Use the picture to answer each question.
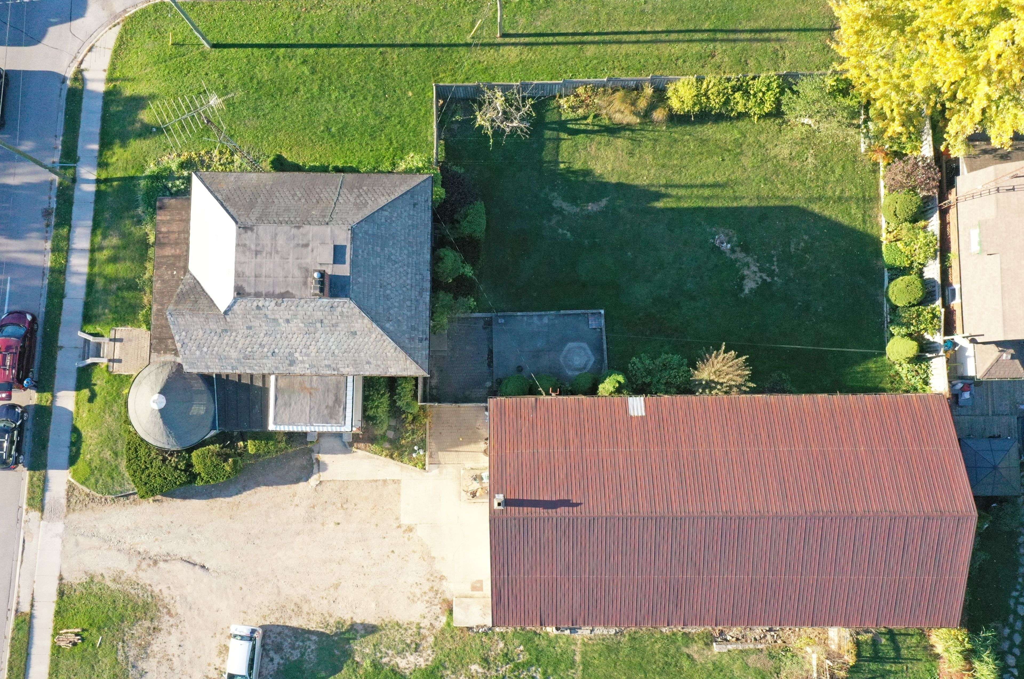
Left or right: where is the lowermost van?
left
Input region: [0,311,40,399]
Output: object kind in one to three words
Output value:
car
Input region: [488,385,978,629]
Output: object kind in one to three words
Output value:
barn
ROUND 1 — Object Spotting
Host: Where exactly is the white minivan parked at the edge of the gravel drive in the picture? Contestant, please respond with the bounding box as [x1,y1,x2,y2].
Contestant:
[216,621,263,679]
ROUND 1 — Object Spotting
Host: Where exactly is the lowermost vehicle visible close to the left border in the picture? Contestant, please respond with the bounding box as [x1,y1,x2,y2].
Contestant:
[0,403,30,474]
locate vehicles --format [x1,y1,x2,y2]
[216,621,263,679]
[0,311,40,399]
[0,403,30,474]
[0,66,12,132]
